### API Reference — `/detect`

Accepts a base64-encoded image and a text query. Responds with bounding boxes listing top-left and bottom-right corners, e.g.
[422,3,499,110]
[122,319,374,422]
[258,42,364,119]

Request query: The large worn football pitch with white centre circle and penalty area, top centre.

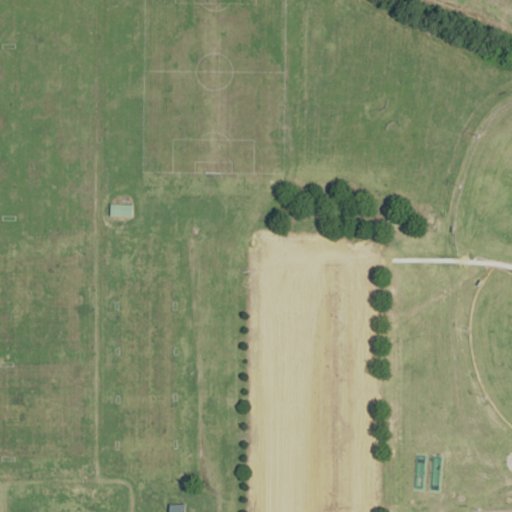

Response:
[144,0,286,174]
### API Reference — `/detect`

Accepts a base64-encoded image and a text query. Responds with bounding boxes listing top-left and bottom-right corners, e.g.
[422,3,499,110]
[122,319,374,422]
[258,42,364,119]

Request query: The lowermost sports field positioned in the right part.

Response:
[468,267,512,430]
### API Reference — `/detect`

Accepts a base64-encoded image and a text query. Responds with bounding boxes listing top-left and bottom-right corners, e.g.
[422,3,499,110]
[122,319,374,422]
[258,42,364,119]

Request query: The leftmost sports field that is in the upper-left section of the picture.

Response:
[0,44,92,220]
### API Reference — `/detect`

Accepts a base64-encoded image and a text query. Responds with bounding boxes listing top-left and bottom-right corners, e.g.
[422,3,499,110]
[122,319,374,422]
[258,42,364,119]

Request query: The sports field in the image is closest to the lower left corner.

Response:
[0,362,86,460]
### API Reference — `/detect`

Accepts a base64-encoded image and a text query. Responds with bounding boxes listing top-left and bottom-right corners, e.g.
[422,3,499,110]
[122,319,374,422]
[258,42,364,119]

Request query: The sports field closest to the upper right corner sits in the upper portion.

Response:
[456,104,512,254]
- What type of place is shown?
sports ground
